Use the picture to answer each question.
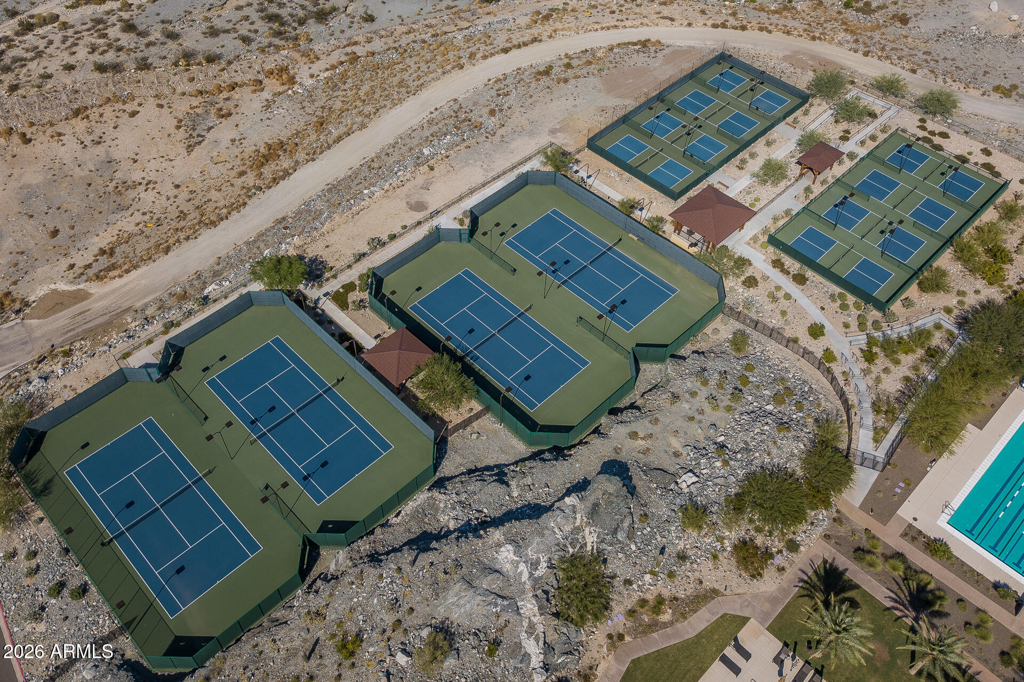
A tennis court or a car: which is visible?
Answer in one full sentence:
Looking from above, you can make out a tennis court.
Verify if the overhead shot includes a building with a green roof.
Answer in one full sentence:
No, the picture doesn't show any building with a green roof.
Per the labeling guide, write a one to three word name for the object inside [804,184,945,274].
sports court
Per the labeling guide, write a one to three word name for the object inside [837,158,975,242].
sports court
